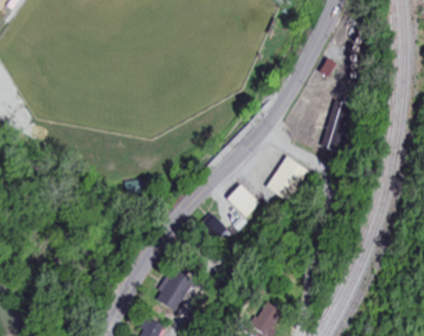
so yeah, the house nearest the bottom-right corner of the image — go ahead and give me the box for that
[252,303,280,336]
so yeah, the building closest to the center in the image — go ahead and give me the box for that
[227,184,258,214]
